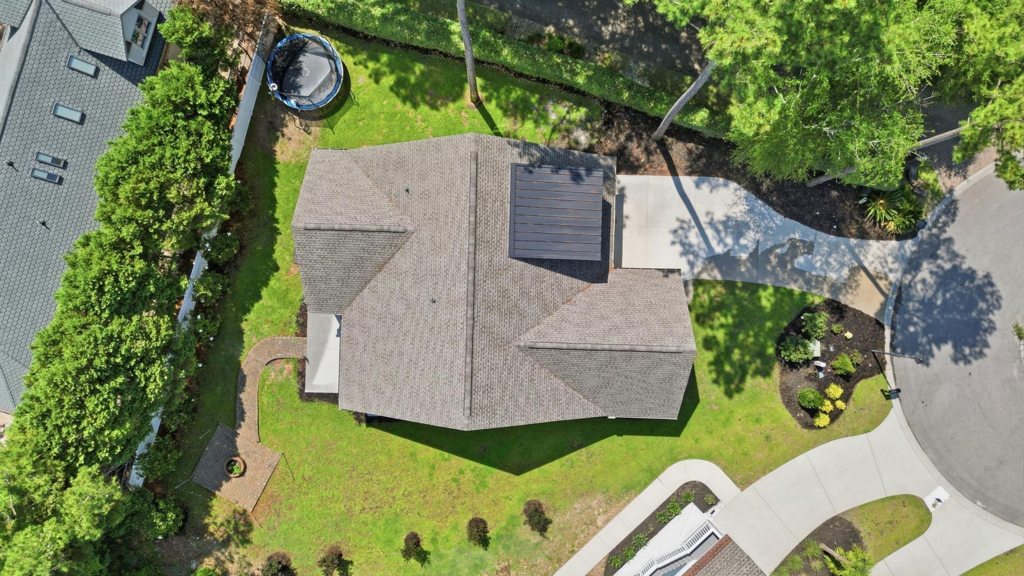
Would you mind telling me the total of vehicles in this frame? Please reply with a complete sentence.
There are no vehicles in this view.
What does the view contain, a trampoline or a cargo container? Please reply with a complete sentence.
This aerial view contains a trampoline.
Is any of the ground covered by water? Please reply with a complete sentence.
No, the picture contains no water.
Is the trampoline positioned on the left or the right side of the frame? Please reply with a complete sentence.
The trampoline appears in the left half of the scene.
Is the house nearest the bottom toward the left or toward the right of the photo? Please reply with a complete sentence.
It is on the right.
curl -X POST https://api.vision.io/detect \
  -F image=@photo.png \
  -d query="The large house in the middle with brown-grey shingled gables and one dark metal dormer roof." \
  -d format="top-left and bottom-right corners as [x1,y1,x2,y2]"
[291,132,696,431]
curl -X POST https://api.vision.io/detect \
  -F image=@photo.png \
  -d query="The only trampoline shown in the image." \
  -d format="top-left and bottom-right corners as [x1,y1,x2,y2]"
[258,25,347,114]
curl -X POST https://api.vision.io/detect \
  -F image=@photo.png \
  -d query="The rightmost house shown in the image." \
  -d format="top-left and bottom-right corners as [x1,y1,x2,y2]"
[613,502,763,576]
